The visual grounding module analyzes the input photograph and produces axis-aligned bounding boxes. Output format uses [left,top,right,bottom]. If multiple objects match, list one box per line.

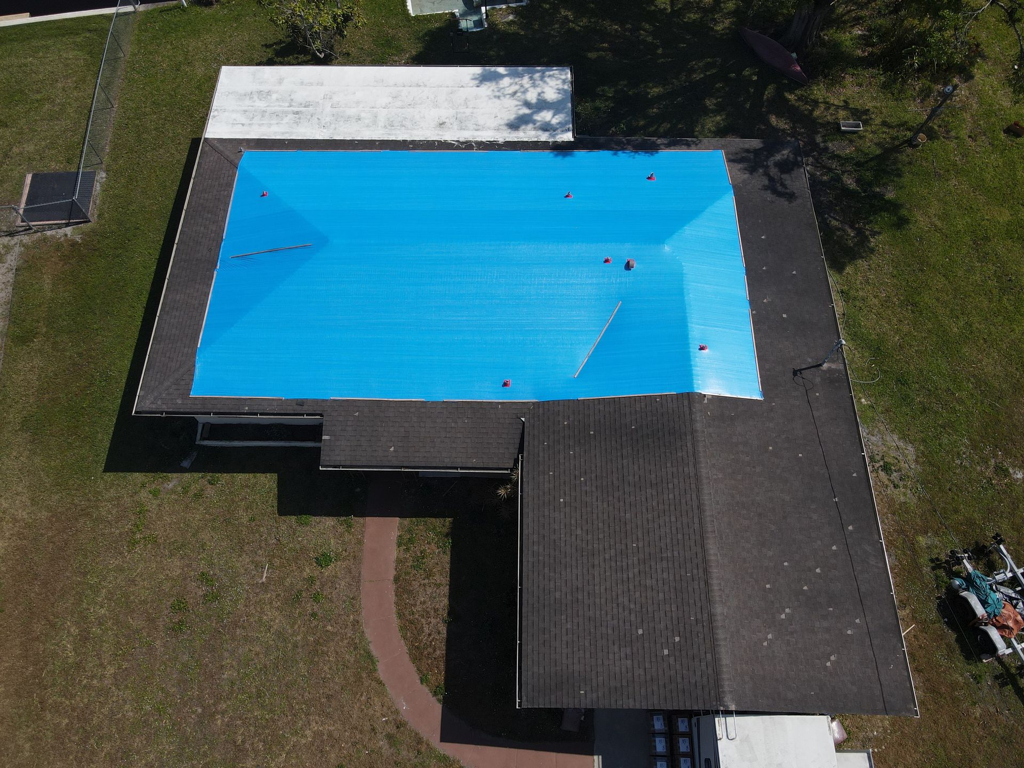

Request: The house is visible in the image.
[132,66,918,717]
